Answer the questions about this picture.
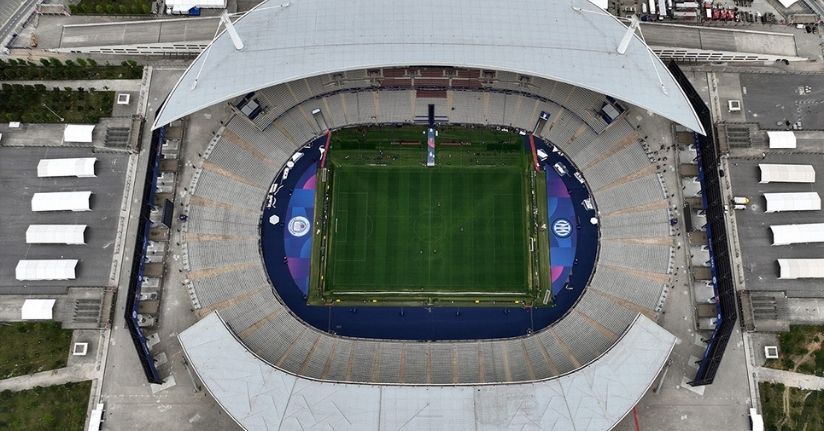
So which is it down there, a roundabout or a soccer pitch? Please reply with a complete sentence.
The one in the frame is a soccer pitch.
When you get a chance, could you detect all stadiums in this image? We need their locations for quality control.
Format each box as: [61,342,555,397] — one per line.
[152,0,706,431]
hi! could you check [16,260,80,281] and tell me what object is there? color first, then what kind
white tent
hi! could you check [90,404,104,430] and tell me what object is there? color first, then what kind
white vehicle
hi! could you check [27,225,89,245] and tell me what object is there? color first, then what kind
white tent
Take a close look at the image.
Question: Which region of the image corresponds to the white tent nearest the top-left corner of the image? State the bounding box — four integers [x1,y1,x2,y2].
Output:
[64,126,97,143]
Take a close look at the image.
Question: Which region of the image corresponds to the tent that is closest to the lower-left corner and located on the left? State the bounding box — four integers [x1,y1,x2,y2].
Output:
[23,299,58,321]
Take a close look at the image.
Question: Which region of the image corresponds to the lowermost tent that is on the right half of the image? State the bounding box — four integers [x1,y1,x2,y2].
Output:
[774,259,824,280]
